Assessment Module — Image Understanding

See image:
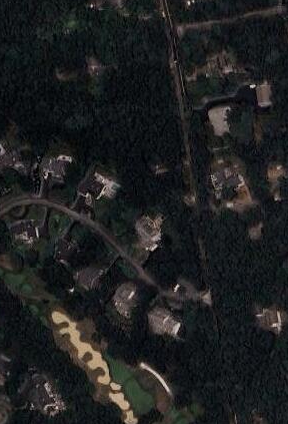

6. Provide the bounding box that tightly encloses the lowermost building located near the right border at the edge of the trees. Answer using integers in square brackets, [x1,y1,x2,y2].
[257,307,285,327]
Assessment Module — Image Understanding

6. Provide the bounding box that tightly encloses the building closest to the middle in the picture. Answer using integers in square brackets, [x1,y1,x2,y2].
[137,214,162,249]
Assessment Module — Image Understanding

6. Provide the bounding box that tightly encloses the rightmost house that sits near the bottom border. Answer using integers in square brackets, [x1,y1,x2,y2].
[24,370,62,417]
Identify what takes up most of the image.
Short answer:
trees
